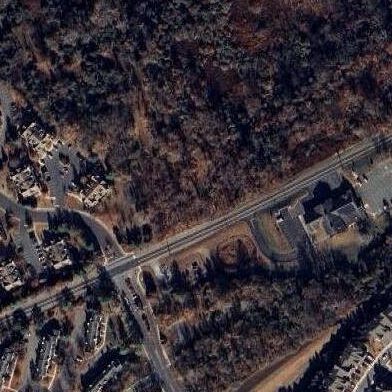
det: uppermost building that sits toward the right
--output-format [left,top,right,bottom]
[309,201,363,244]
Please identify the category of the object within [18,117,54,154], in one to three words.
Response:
building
